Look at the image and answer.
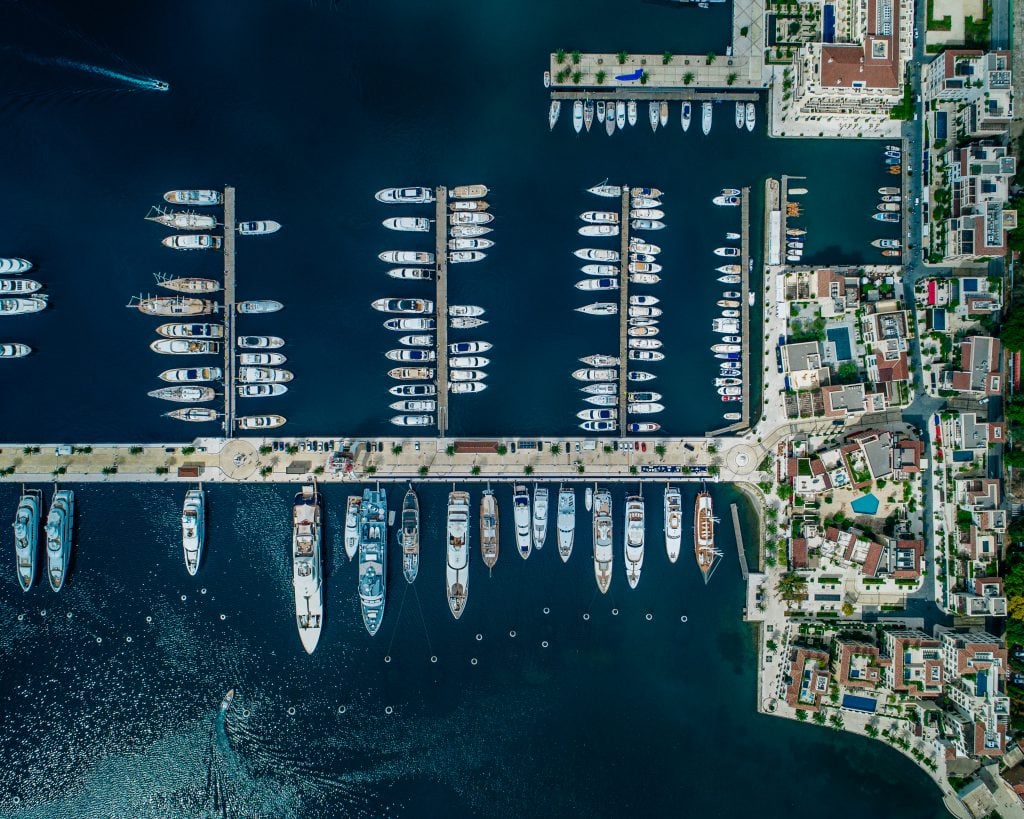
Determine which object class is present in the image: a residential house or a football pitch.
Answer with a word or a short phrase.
residential house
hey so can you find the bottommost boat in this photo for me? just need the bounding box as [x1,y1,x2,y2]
[219,690,233,712]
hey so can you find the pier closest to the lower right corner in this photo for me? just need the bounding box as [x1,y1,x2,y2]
[730,503,748,578]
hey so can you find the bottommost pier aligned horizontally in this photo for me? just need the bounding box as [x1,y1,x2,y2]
[0,437,736,483]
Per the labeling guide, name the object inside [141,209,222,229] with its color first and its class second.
white ship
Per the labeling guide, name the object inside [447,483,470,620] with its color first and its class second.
white boat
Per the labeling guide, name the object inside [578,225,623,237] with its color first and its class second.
white boat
